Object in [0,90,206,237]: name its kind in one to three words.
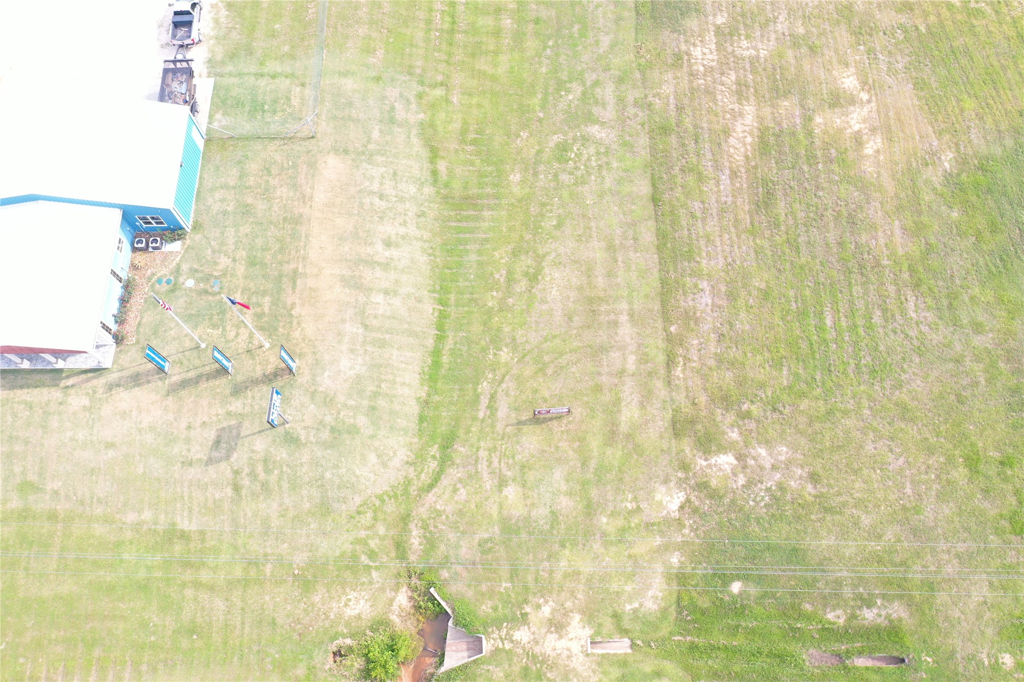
building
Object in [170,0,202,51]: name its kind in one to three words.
truck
